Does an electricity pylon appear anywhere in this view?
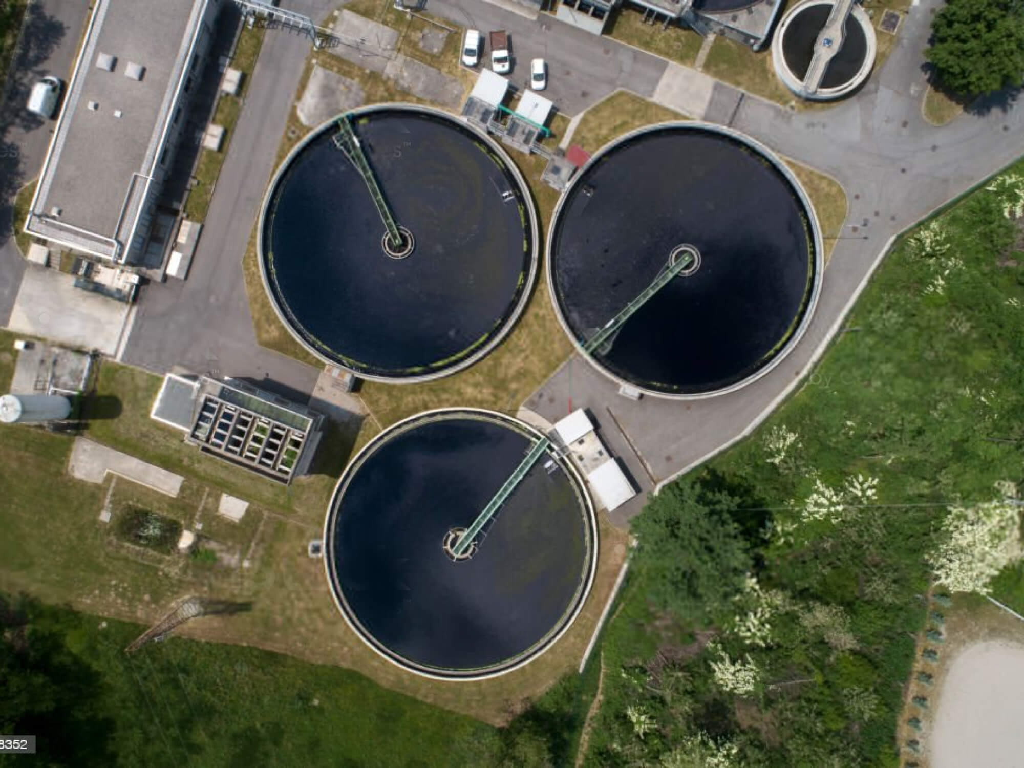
Yes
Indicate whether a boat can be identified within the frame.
No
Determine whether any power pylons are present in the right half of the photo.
No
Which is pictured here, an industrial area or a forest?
industrial area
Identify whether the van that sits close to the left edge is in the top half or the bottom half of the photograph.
top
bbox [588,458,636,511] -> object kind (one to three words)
building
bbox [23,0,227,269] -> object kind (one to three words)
building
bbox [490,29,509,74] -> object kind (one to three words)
vehicle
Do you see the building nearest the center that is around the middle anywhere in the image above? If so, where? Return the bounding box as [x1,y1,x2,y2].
[554,408,593,444]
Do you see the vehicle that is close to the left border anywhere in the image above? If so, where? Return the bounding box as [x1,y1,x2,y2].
[28,75,60,117]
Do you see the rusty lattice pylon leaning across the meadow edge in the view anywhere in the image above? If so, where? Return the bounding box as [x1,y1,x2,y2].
[125,593,210,652]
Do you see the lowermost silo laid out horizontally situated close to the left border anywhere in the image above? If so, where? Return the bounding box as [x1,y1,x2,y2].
[0,393,67,424]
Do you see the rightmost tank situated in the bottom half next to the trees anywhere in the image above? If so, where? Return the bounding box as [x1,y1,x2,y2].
[324,407,598,681]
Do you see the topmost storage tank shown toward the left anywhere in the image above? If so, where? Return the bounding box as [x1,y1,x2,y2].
[258,103,539,384]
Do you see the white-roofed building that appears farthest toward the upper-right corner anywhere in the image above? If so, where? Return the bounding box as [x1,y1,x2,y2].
[516,90,553,129]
